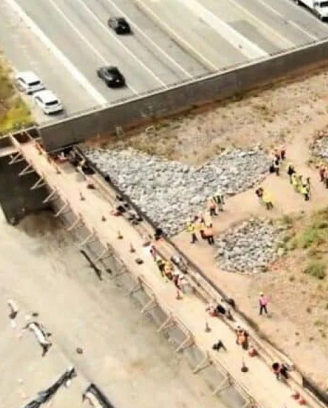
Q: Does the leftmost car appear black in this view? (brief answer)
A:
No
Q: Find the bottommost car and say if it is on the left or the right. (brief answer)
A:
left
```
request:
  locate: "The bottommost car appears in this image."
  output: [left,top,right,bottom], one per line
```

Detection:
[33,87,62,113]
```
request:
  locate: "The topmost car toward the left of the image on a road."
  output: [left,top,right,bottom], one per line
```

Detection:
[106,15,131,34]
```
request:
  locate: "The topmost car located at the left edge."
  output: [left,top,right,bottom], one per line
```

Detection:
[12,66,40,91]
